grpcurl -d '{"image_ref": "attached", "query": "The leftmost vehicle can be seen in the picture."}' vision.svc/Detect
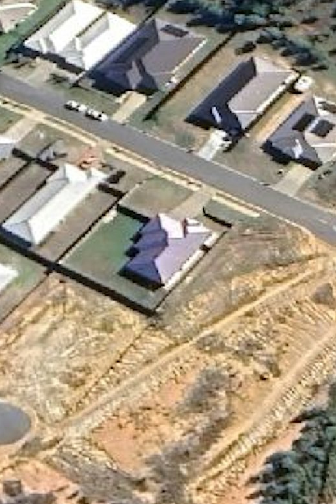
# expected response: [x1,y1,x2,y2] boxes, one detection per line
[67,98,89,111]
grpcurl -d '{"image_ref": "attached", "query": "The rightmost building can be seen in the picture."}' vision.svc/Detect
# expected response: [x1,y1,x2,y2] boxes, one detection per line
[264,94,336,173]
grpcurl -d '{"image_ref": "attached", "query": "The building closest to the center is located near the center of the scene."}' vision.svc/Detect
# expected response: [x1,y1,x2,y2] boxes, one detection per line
[121,207,216,295]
